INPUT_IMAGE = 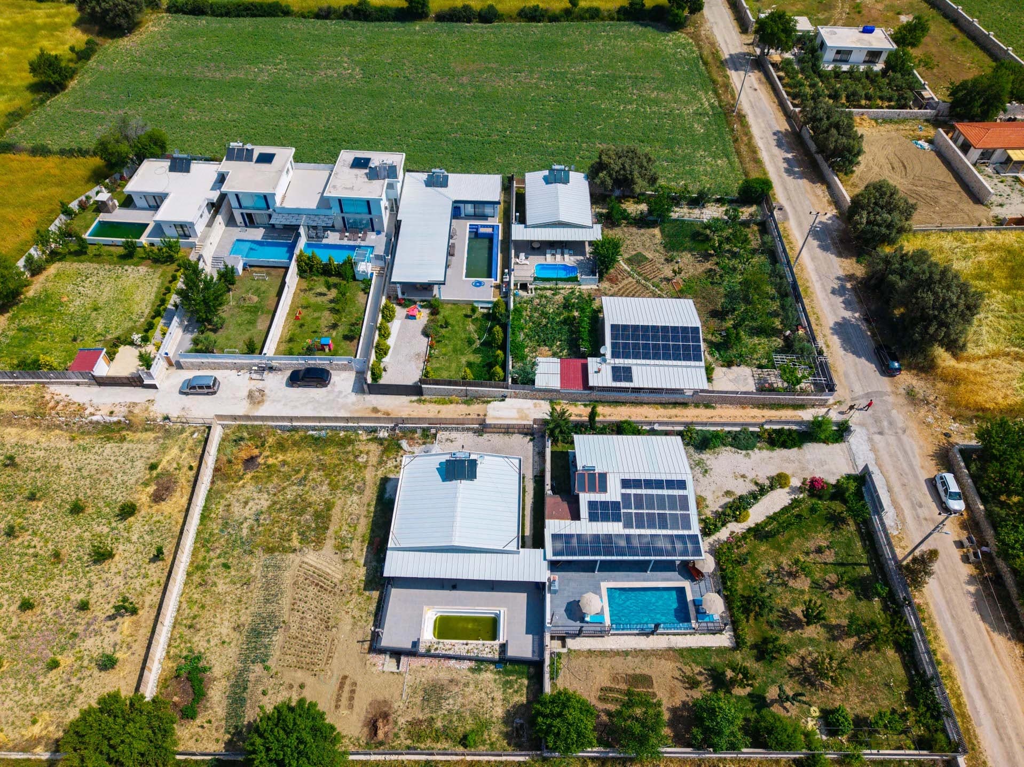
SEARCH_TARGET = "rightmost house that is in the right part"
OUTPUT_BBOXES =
[952,120,1024,163]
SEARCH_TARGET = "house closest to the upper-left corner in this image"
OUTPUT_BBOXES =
[89,188,116,211]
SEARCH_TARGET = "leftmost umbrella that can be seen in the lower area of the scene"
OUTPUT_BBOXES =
[577,592,604,618]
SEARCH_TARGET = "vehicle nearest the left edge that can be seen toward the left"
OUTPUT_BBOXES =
[178,375,223,397]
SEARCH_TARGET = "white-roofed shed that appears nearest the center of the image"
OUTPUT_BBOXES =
[535,357,561,389]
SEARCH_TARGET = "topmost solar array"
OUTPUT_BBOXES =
[612,325,705,358]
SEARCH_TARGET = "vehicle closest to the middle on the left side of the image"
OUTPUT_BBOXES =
[288,368,333,389]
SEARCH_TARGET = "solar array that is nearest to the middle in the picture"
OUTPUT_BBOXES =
[615,365,637,381]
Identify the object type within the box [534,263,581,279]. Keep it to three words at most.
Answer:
swimming pool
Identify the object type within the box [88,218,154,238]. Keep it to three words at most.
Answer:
swimming pool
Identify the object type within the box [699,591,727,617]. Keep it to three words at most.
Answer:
umbrella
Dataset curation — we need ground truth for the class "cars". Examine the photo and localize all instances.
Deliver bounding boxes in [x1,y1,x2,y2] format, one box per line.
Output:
[178,375,223,397]
[288,368,333,389]
[931,470,965,518]
[870,346,902,378]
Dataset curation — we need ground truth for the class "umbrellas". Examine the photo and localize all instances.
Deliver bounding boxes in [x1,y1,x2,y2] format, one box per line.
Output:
[693,554,717,575]
[577,592,604,618]
[699,591,727,617]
